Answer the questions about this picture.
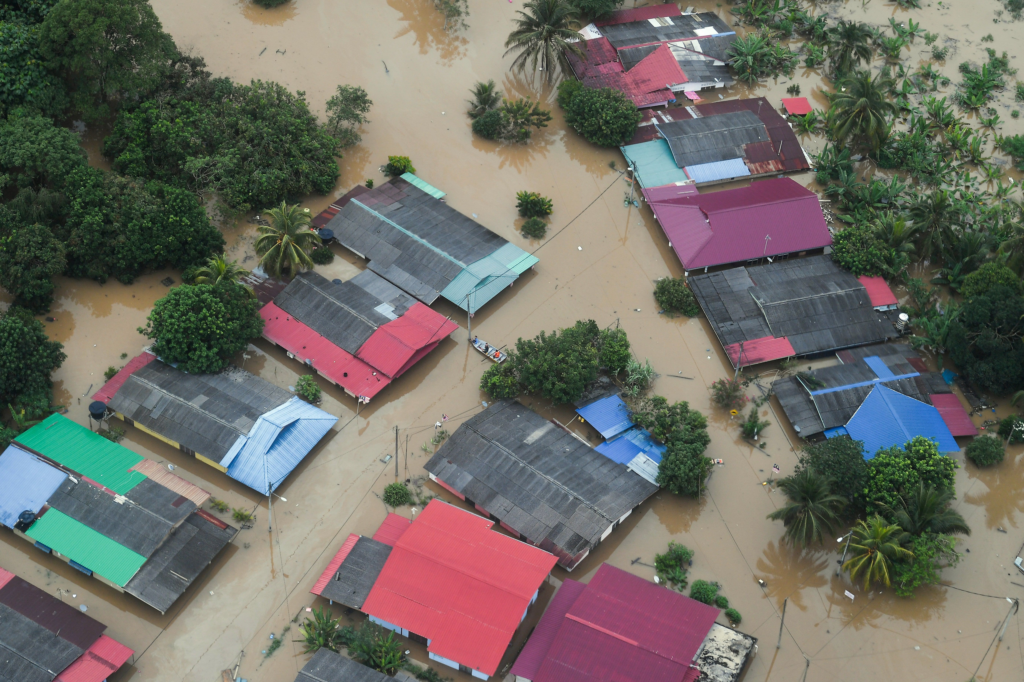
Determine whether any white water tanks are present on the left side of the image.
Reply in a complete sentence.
No, no white water tank can be made out on the left side of the image.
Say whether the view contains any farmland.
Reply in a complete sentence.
No, farmland can't be seen anywhere here.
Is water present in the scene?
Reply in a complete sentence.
Yes, water can be seen from above here.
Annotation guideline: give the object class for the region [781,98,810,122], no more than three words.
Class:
shed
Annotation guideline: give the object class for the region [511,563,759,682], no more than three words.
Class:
house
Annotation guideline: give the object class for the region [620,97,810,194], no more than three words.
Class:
house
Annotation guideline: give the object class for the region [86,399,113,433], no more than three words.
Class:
water tank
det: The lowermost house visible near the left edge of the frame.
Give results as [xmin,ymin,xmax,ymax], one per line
[0,567,135,682]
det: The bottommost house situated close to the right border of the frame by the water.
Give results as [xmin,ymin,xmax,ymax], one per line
[771,343,978,467]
